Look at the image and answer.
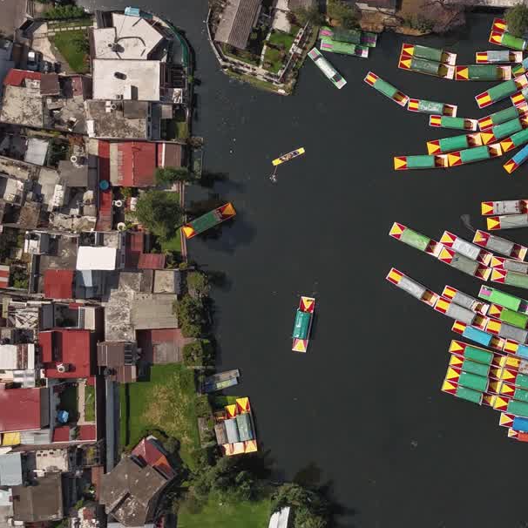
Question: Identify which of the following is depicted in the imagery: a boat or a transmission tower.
boat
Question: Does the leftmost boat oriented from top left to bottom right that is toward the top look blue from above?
No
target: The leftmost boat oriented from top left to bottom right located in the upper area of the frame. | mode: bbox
[308,48,346,88]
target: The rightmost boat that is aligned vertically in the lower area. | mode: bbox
[293,296,314,353]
